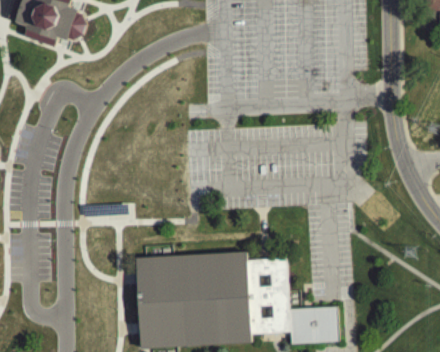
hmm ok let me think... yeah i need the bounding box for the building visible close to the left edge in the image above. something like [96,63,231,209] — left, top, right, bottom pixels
[16,0,91,45]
